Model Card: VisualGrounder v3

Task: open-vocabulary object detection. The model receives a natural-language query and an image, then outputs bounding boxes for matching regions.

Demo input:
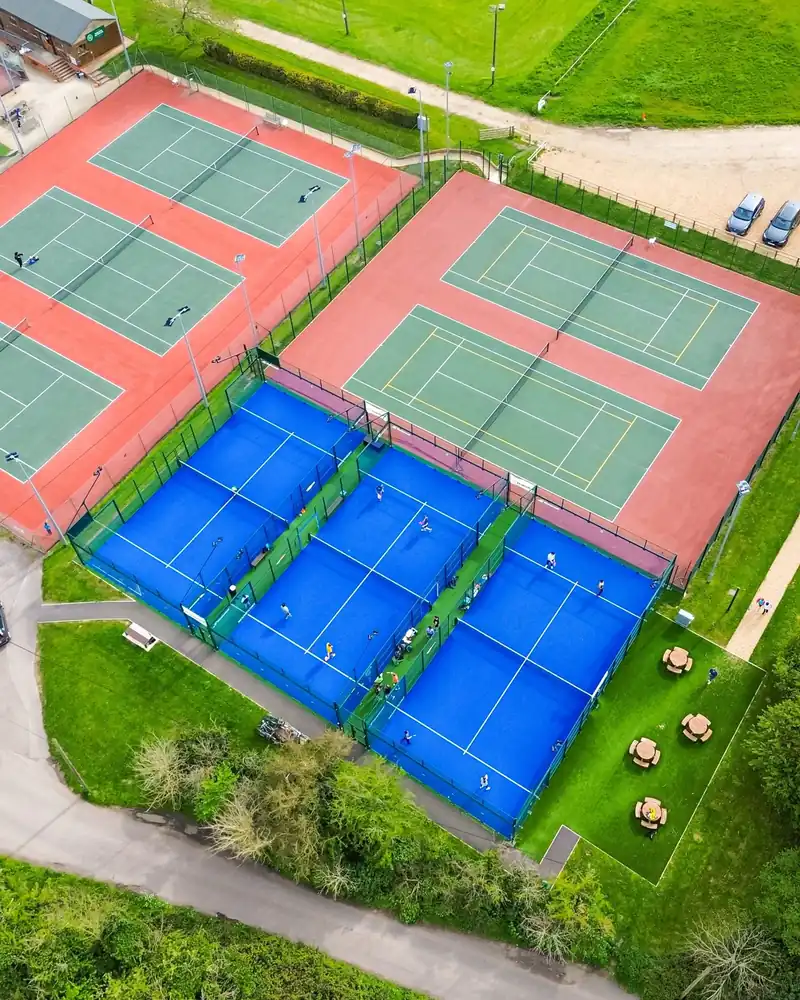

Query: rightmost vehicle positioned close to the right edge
[765,199,800,244]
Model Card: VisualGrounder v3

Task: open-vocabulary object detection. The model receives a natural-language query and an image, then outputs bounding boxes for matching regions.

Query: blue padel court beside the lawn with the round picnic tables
[360,483,678,846]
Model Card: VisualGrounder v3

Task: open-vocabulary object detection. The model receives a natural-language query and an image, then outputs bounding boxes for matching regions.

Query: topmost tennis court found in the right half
[441,206,758,391]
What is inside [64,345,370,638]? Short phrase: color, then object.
blue sports court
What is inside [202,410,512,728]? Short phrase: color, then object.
blue sports court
